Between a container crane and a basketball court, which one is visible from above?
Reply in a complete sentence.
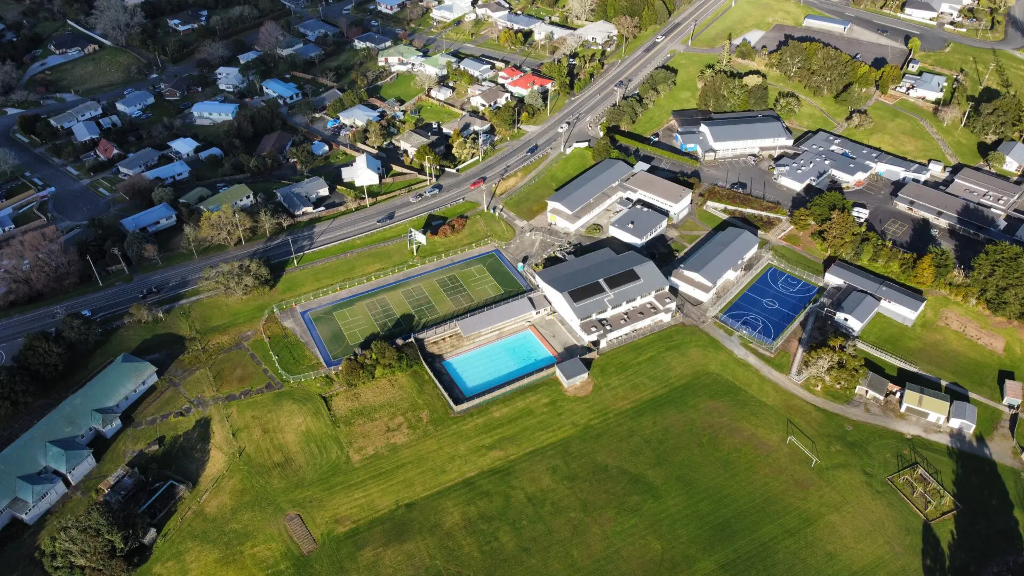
This aerial view contains a basketball court.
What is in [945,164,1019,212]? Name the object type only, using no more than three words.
building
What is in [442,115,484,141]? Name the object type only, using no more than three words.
house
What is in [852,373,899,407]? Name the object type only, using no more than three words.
shed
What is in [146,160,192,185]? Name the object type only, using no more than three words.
house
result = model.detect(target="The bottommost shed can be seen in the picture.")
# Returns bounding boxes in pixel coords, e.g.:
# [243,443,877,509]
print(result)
[139,527,164,550]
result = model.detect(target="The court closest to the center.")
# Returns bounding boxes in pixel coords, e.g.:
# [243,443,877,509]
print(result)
[301,249,535,364]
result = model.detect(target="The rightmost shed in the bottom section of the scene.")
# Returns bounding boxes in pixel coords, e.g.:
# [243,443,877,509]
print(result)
[992,377,1021,412]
